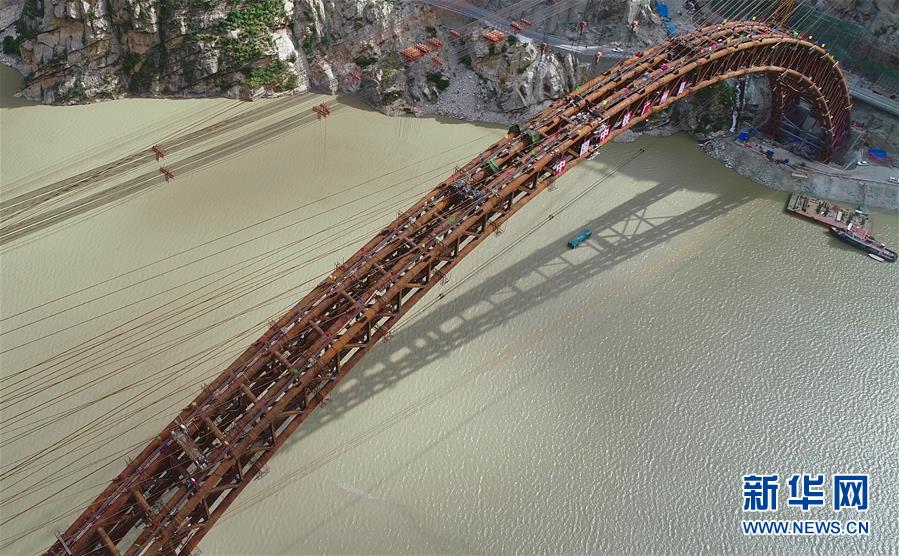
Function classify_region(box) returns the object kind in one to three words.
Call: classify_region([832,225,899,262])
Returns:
boat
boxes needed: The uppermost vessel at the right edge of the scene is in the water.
[788,191,872,235]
